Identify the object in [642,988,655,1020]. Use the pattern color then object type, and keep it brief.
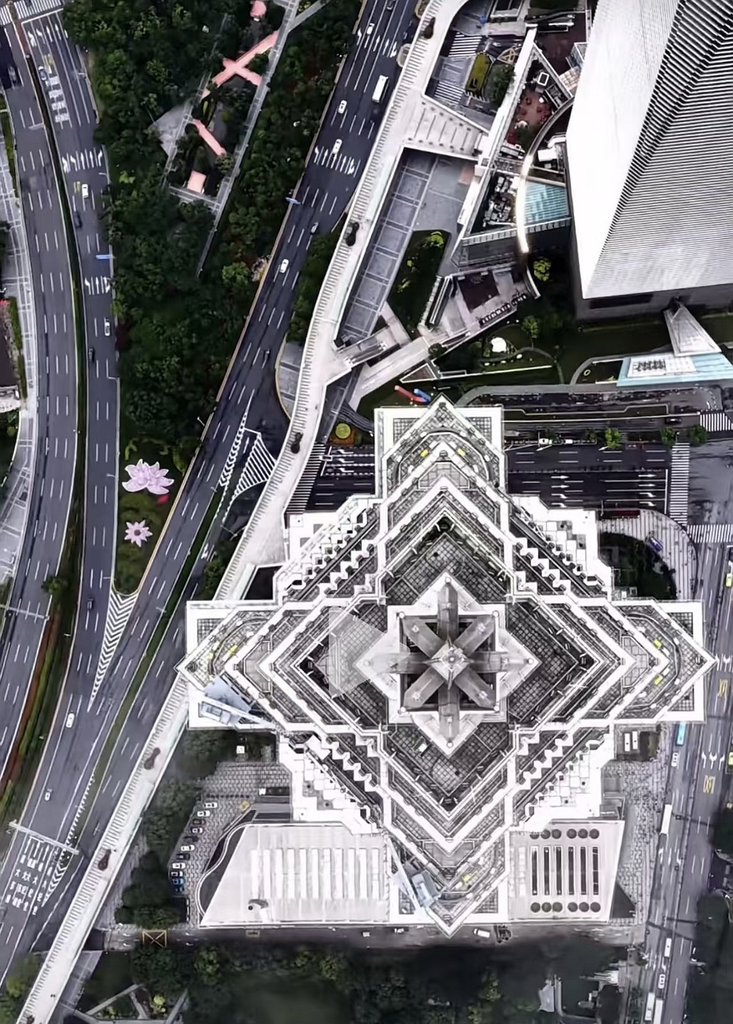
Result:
white vehicle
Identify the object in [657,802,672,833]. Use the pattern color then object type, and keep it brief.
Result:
white vehicle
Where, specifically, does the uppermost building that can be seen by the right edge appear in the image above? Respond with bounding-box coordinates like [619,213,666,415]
[565,0,733,320]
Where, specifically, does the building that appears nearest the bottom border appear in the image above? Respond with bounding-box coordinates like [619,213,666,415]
[539,981,555,1012]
